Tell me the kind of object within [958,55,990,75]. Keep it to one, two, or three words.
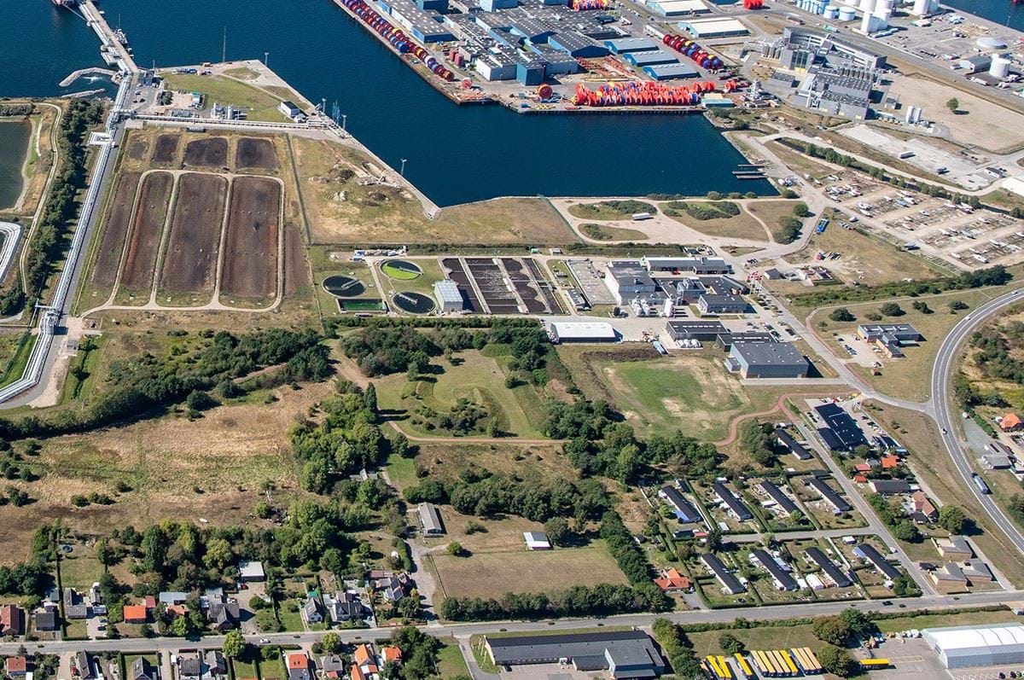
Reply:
building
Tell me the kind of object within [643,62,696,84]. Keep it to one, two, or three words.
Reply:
building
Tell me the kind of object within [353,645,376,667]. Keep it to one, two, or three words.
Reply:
house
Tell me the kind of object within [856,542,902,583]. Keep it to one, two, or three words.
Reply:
house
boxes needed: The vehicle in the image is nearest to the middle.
[652,337,667,352]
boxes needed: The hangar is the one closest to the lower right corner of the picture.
[929,626,1024,669]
